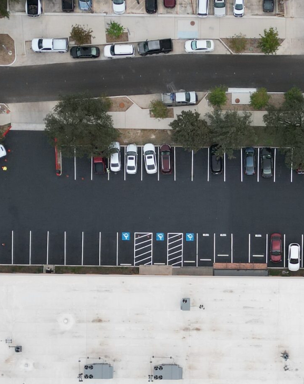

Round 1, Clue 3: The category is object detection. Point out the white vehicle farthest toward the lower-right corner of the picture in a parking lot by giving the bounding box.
[287,243,302,271]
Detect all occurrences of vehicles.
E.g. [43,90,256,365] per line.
[210,146,223,176]
[79,0,92,13]
[103,42,135,59]
[125,144,138,175]
[111,0,126,16]
[138,39,174,55]
[93,144,106,176]
[70,44,100,60]
[196,0,209,18]
[107,141,122,172]
[163,0,177,8]
[268,233,283,263]
[296,164,304,175]
[287,243,302,271]
[212,0,228,18]
[232,0,247,19]
[260,146,273,178]
[185,39,214,53]
[25,0,41,19]
[158,143,173,175]
[31,37,70,53]
[161,91,197,106]
[262,0,275,14]
[144,0,157,14]
[142,143,157,175]
[243,146,255,176]
[60,0,74,13]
